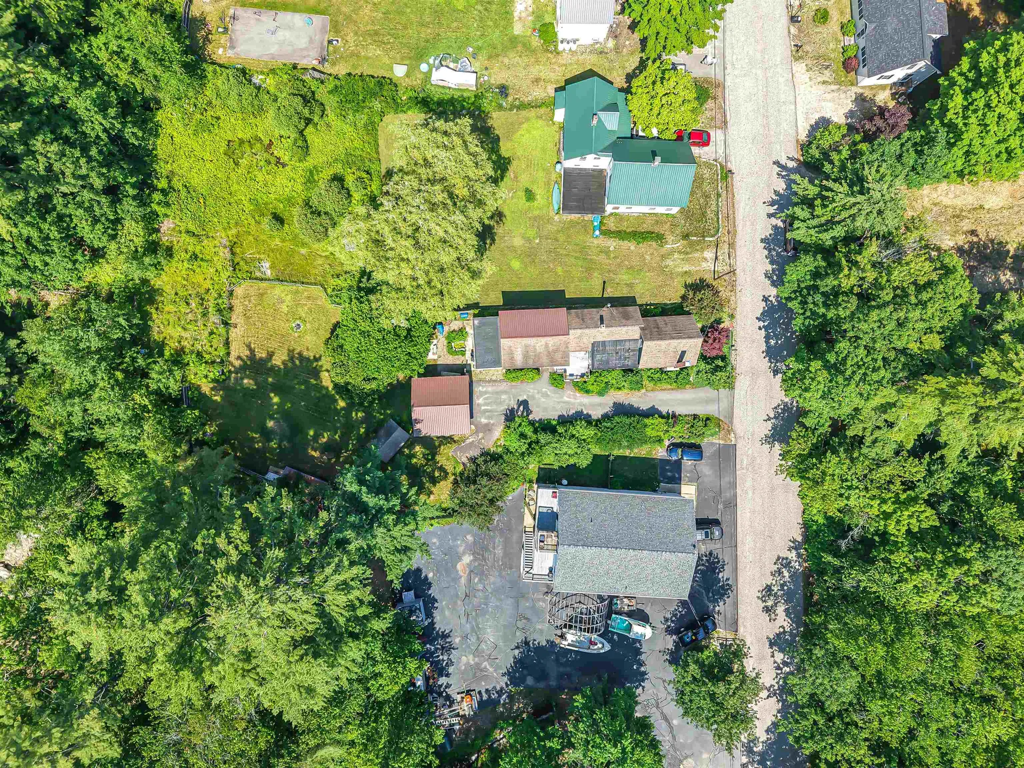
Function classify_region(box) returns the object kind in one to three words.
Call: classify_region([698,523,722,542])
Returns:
vehicle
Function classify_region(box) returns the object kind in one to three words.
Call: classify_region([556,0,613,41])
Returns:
shed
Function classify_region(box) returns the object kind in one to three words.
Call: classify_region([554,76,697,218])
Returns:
building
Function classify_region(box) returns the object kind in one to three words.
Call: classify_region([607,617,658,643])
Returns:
boat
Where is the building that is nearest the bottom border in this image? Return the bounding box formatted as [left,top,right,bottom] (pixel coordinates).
[552,482,699,600]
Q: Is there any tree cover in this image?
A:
Yes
